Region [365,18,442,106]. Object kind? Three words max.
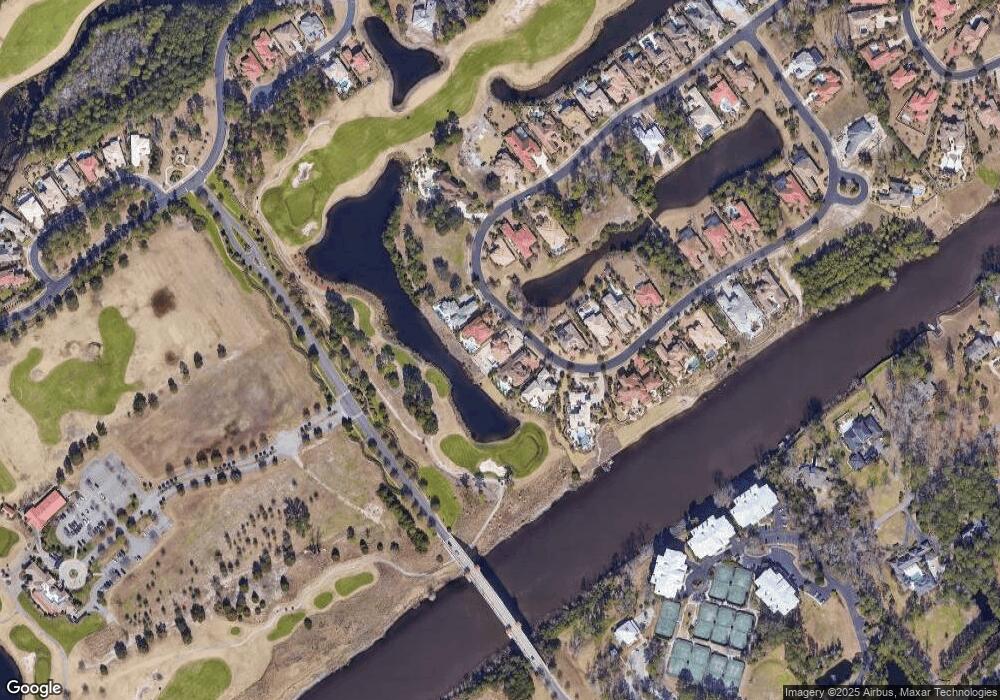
pond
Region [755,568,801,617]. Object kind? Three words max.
building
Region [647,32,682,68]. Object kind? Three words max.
house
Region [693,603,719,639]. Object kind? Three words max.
tennis court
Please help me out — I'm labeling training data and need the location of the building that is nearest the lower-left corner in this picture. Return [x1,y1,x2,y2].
[27,563,77,615]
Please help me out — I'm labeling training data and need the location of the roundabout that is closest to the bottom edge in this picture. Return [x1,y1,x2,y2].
[58,558,88,590]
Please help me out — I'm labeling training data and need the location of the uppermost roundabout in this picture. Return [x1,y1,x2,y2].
[830,168,868,206]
